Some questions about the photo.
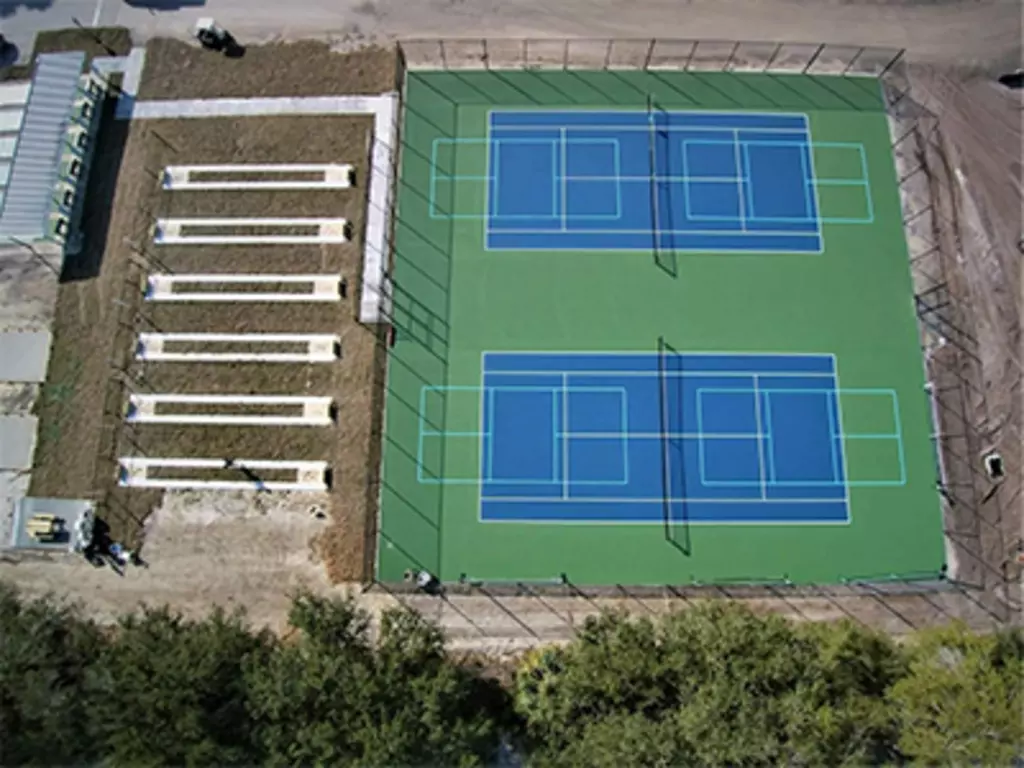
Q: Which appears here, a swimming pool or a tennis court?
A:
tennis court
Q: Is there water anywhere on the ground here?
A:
No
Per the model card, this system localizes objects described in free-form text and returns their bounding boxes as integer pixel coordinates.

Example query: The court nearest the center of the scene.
[419,387,628,483]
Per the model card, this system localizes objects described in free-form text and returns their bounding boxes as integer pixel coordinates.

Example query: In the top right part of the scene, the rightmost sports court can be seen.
[683,141,874,221]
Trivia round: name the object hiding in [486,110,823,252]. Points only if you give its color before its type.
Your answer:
blue tennis court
